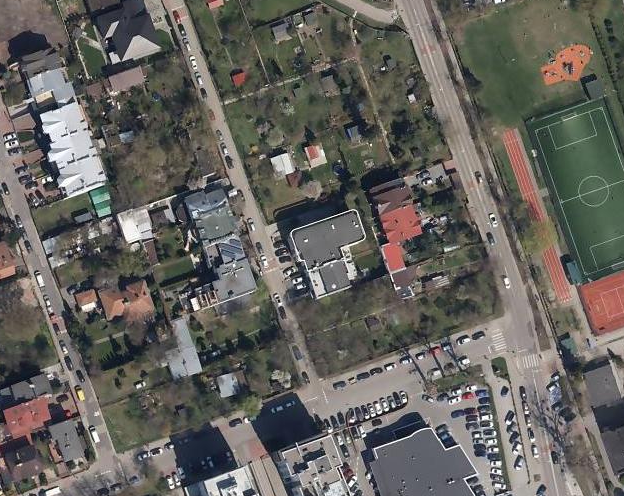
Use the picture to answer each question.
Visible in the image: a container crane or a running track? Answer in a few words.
running track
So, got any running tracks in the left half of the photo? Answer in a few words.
No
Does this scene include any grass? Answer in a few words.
Yes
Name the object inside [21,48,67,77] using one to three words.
house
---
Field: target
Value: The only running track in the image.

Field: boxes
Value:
[503,127,571,302]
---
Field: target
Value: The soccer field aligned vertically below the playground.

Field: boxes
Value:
[527,97,624,284]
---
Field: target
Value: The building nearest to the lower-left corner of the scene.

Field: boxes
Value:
[0,437,45,481]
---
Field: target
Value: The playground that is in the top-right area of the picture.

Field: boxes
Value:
[541,44,591,84]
